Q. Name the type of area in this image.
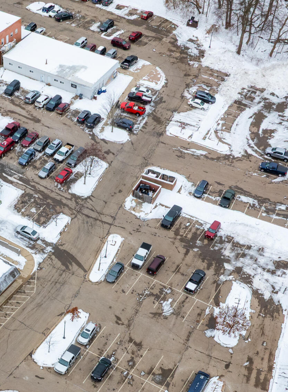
parking lot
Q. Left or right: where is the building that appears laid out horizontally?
left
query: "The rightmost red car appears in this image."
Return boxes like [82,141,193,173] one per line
[206,219,223,239]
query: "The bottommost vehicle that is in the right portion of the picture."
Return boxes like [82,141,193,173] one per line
[188,371,210,392]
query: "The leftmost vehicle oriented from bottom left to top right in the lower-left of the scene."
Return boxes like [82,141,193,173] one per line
[55,342,81,374]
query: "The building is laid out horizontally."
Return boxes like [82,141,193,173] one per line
[3,33,119,99]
